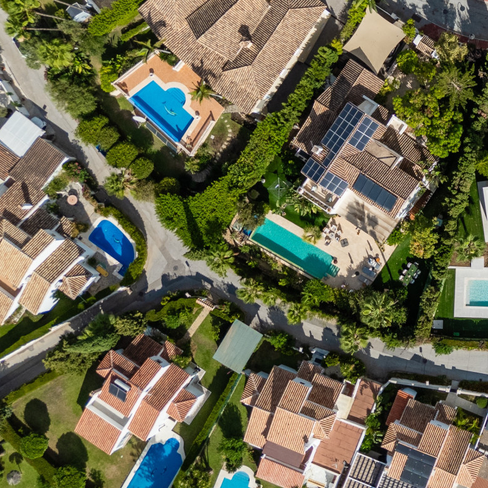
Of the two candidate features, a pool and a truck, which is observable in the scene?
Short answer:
pool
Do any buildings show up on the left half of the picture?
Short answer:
Yes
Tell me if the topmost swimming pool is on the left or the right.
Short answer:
left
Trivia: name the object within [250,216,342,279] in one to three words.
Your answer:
swimming pool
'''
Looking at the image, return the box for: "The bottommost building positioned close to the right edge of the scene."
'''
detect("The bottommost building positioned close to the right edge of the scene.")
[343,389,488,488]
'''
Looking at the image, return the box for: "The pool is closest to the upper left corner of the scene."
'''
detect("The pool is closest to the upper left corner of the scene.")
[127,76,196,146]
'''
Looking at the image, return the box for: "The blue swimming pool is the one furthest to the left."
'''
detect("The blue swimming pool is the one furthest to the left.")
[87,218,138,276]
